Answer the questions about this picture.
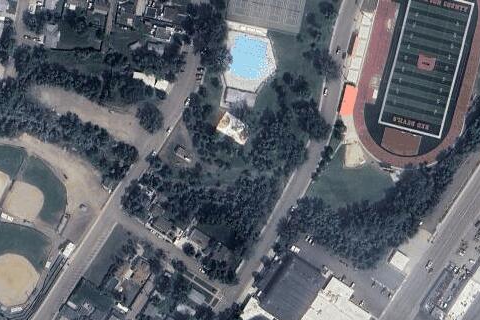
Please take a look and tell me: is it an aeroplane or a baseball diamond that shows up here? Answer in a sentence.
This aerial view contains a baseball diamond.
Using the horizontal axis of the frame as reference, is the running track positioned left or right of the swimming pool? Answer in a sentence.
Relative to the swimming pool, the running track is on the right.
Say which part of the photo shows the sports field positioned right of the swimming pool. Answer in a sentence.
The sports field positioned right of the swimming pool is in the top right part of the image.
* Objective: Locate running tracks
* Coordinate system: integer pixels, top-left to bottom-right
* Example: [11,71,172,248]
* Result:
[353,0,480,168]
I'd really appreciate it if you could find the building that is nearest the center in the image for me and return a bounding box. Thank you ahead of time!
[218,111,247,140]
